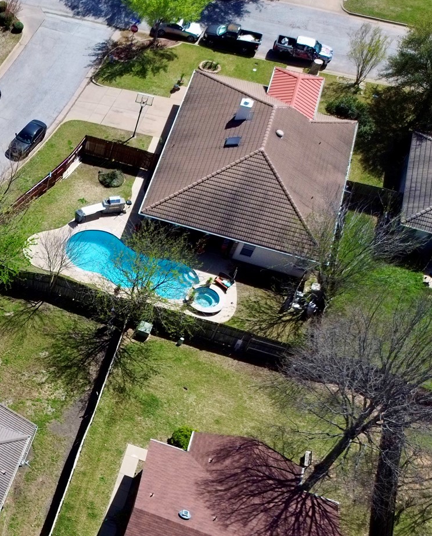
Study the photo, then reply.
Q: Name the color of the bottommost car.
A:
black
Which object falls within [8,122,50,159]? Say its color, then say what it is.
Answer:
black car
